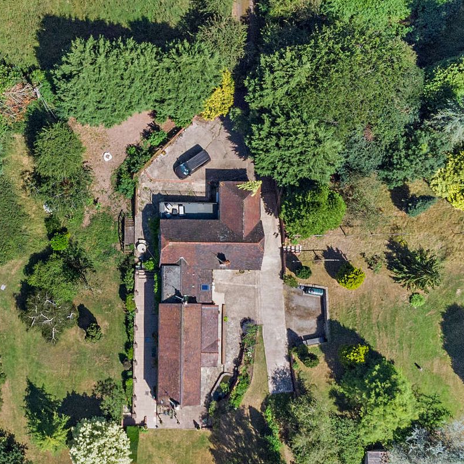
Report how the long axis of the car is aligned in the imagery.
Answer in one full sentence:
In this picture, the car is oriented at an angle.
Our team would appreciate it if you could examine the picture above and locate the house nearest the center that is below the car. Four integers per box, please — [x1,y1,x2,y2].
[159,182,265,304]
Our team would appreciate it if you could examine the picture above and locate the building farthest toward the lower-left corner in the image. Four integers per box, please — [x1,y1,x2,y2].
[157,292,219,413]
